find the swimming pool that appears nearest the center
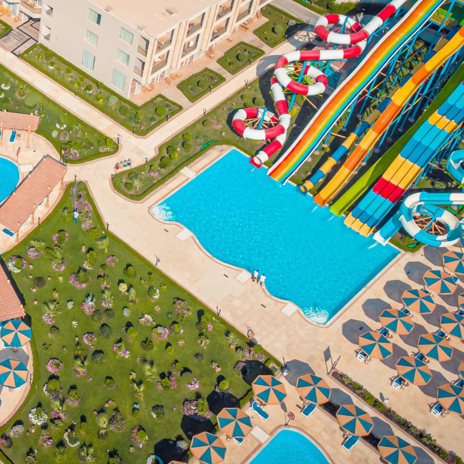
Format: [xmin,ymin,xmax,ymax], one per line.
[148,148,405,327]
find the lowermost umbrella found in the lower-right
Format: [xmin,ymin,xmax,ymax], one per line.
[376,434,418,464]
